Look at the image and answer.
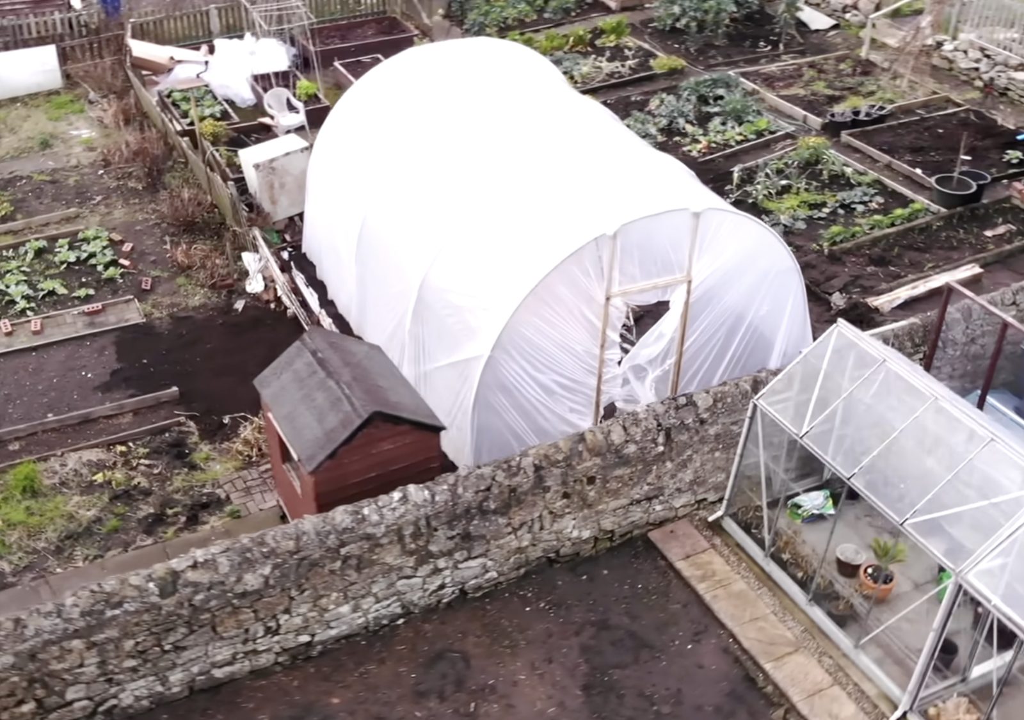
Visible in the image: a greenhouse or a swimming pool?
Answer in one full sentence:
I can see a greenhouse in this picture.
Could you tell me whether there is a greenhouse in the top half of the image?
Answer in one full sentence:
Yes, the scene does show a greenhouse in the top half of the image.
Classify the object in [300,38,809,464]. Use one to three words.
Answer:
greenhouse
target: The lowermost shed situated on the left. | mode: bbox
[250,323,450,527]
